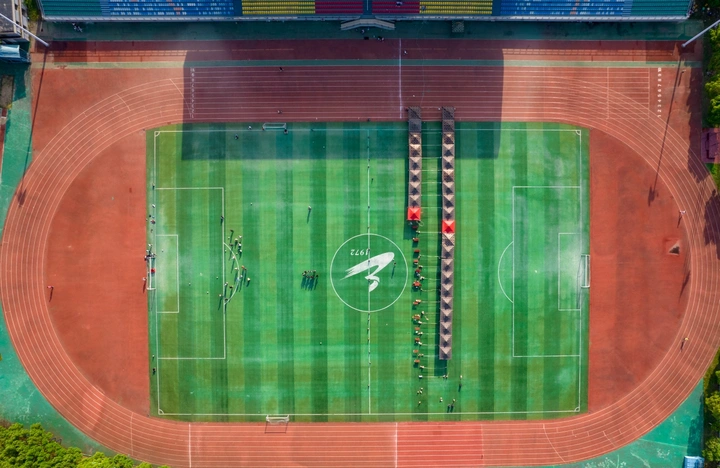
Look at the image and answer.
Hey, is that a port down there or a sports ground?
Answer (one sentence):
It's a sports ground.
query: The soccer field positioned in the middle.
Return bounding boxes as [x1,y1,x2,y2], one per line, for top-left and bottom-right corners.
[144,120,591,420]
